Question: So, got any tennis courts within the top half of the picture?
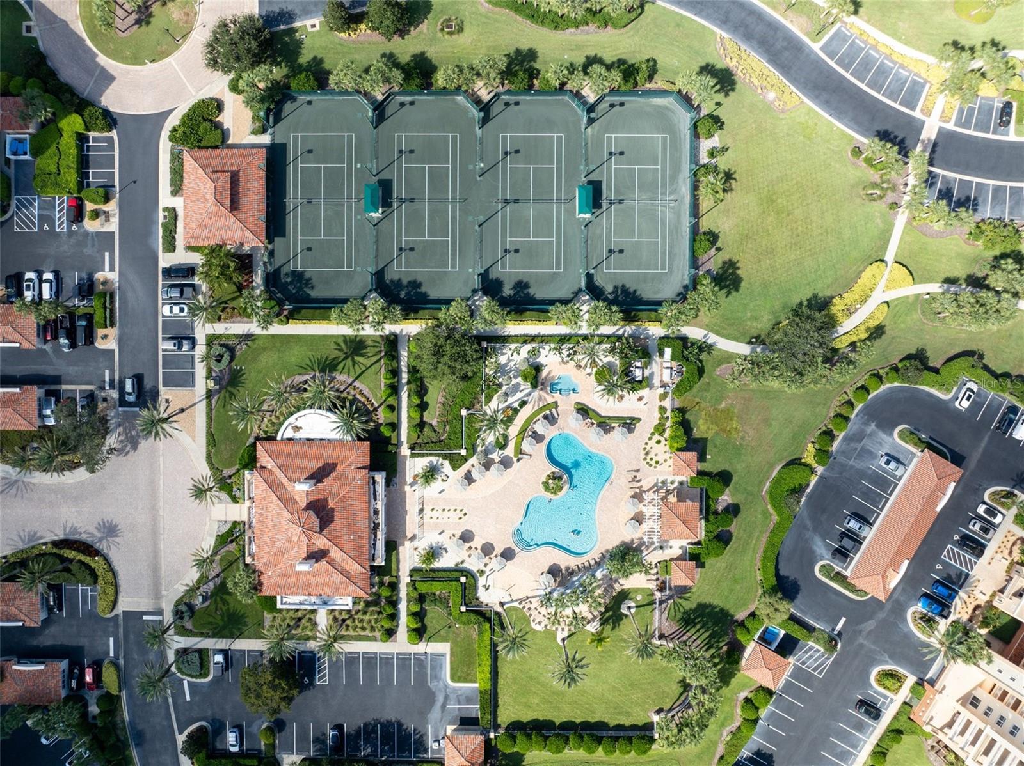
Yes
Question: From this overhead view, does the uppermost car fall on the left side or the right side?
right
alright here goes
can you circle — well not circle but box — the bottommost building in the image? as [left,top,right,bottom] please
[444,726,484,766]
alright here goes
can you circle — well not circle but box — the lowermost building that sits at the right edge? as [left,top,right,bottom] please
[905,559,1024,766]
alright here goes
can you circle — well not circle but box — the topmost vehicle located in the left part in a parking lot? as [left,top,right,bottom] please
[64,198,80,225]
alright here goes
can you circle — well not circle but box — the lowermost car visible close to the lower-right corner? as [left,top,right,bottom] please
[856,699,885,721]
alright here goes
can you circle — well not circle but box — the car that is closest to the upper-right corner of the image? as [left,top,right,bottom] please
[998,98,1018,127]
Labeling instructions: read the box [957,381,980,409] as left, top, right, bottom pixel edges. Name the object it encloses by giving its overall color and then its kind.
white car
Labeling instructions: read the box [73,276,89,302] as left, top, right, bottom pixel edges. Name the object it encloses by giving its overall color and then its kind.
black car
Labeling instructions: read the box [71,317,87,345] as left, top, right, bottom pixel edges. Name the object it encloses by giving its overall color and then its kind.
black car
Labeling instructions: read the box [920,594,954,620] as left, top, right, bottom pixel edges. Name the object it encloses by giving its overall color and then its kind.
blue truck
